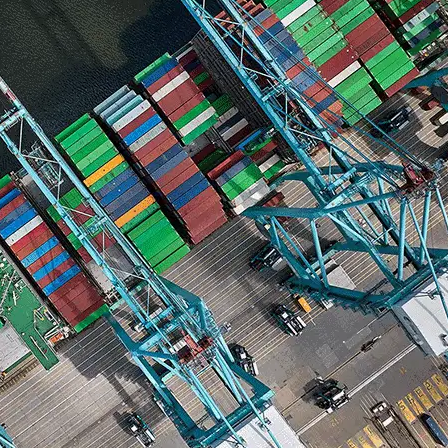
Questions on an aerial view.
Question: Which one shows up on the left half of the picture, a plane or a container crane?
container crane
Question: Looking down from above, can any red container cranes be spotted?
No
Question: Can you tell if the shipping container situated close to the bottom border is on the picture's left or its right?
right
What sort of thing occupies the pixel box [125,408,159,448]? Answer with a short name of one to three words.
work vehicle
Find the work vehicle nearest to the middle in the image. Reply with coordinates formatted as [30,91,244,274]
[247,244,285,275]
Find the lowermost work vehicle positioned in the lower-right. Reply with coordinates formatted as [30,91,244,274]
[308,378,353,414]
